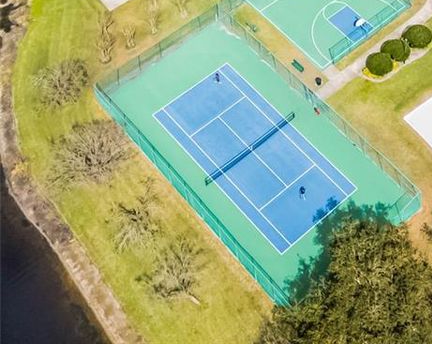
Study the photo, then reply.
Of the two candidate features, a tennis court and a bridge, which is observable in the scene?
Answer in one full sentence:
The one in the frame is a tennis court.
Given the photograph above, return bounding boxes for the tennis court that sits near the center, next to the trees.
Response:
[97,17,423,312]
